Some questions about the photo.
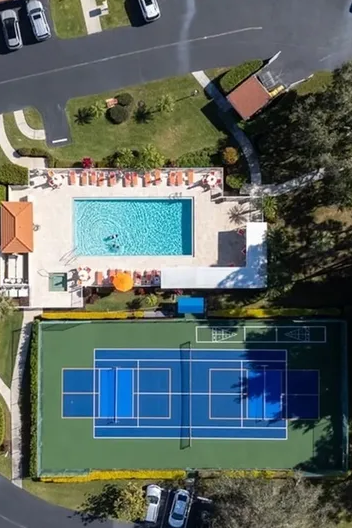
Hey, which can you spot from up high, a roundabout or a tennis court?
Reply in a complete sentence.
There is a tennis court in the scene.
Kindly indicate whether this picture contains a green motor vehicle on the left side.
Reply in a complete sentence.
No, I can find no green motor vehicle on the left side.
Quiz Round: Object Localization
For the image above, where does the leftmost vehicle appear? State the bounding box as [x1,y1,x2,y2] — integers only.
[2,10,23,51]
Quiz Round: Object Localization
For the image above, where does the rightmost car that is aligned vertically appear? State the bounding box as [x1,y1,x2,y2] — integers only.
[169,486,190,527]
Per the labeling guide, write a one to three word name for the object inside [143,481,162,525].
vehicle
